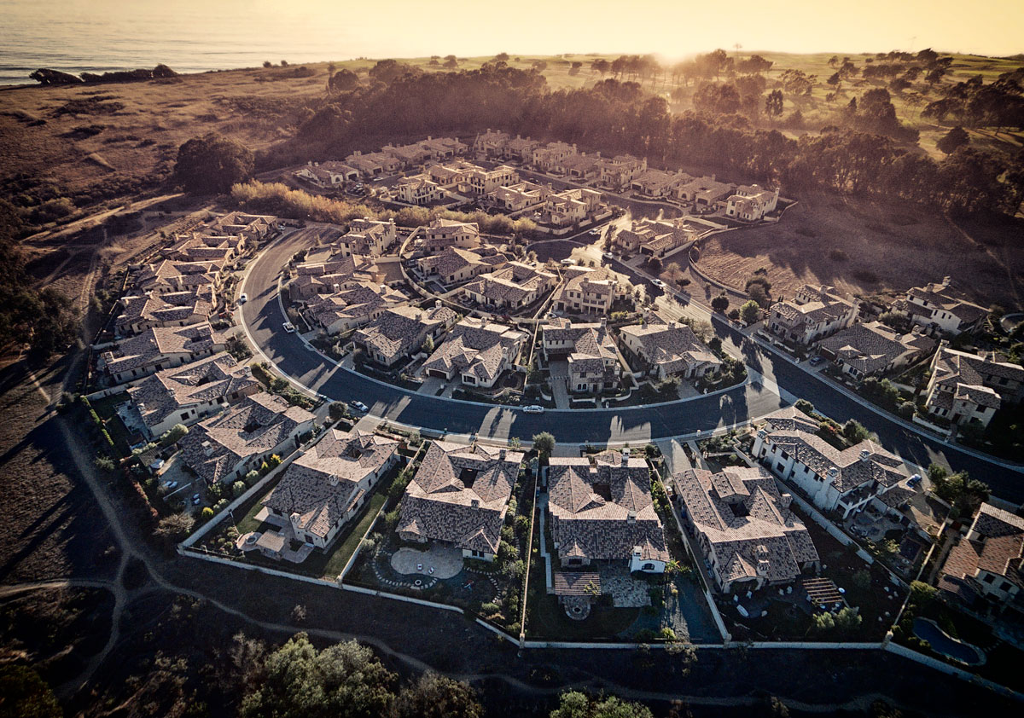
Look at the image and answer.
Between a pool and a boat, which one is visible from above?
pool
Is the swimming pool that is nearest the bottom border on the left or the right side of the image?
right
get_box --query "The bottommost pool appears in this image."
[913,614,987,666]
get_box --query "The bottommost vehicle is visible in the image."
[906,474,925,488]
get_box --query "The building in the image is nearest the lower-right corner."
[931,504,1024,621]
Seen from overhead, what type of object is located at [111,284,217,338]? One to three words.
house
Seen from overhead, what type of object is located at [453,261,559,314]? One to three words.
house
